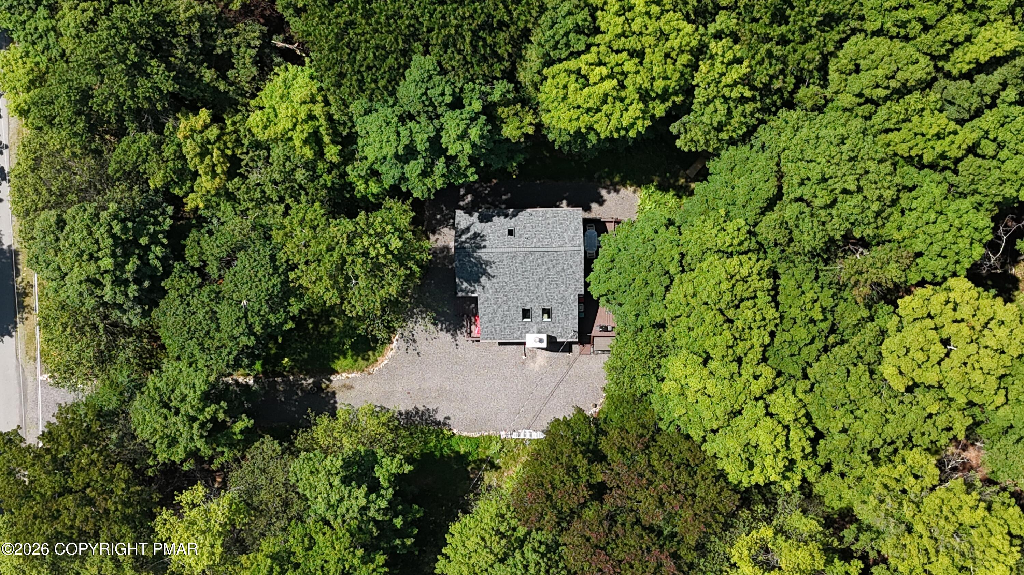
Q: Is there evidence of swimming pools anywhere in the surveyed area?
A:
No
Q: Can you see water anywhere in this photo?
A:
No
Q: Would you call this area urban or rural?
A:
rural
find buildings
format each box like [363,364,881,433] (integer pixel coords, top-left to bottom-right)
[454,205,585,354]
